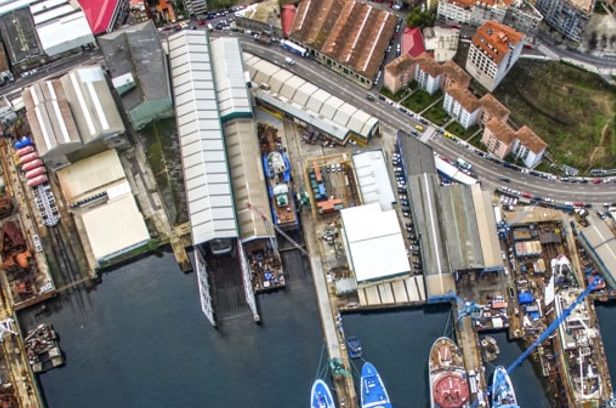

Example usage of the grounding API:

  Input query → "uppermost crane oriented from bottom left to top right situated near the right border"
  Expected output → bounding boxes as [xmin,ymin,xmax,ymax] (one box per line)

[502,270,610,376]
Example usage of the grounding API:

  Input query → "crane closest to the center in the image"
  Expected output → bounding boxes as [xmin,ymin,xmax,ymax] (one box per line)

[238,194,308,255]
